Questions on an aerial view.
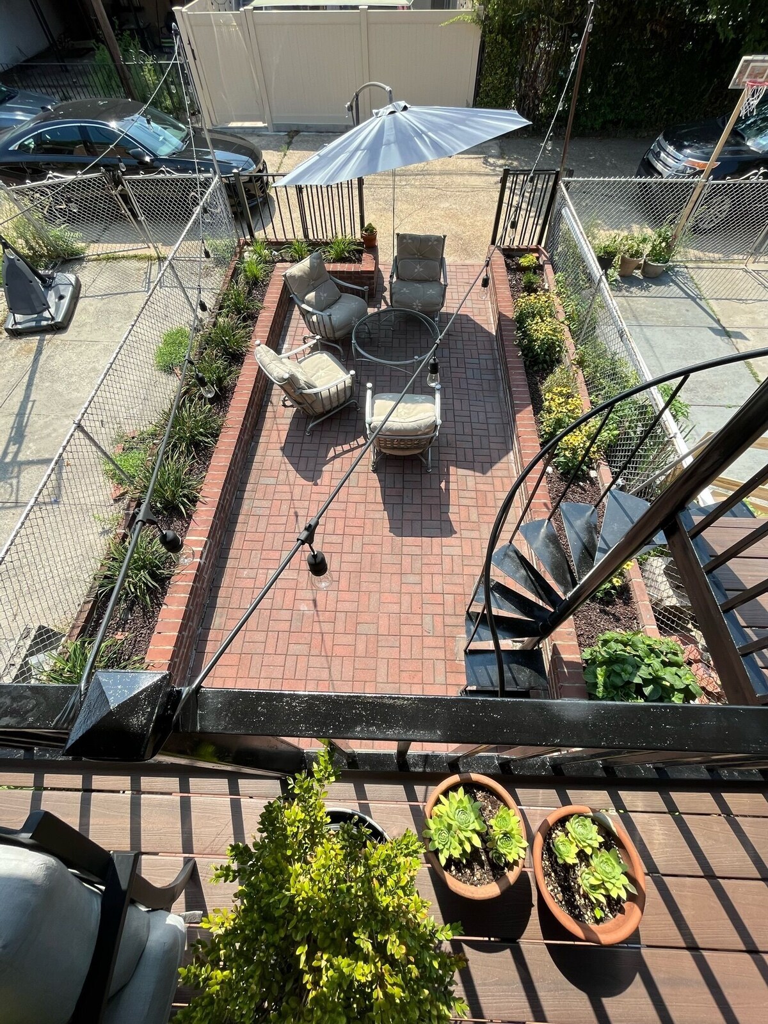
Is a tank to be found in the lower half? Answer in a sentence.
No, no tank appears in the lower half.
